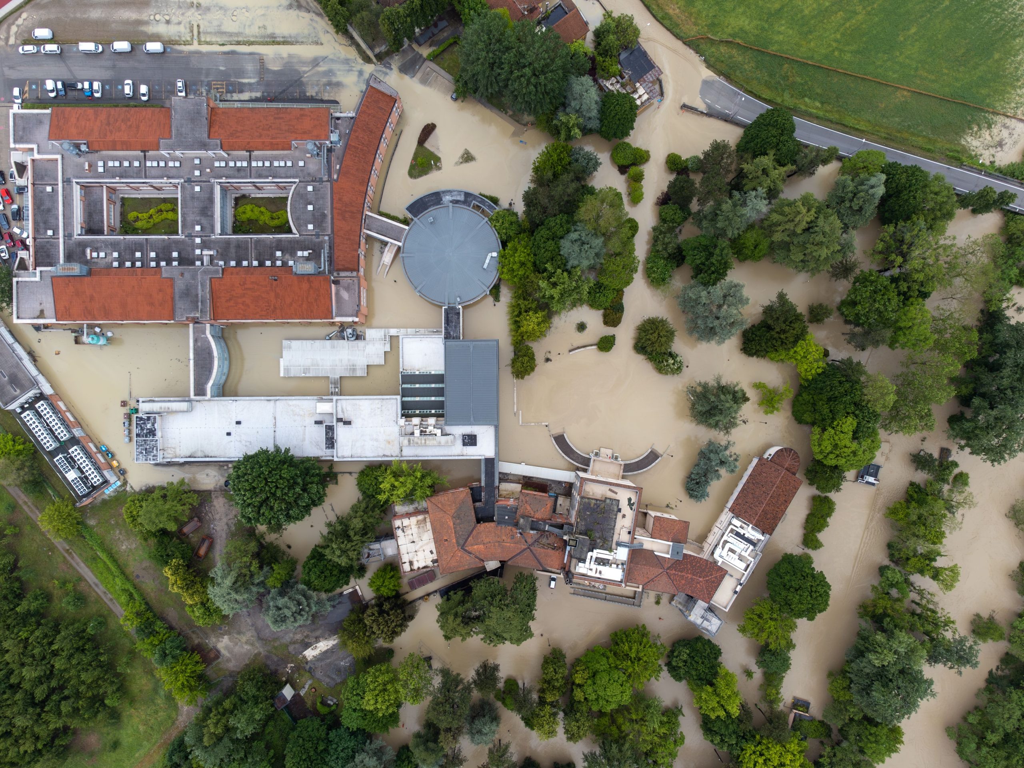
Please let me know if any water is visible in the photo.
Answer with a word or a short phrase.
Yes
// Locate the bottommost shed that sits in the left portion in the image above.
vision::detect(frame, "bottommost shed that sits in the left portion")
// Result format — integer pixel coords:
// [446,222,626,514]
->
[276,678,299,709]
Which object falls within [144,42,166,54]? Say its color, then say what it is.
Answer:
white vehicle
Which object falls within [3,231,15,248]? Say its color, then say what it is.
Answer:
red vehicle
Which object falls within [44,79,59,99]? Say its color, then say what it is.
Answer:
white car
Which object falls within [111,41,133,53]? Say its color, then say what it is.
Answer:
white vehicle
